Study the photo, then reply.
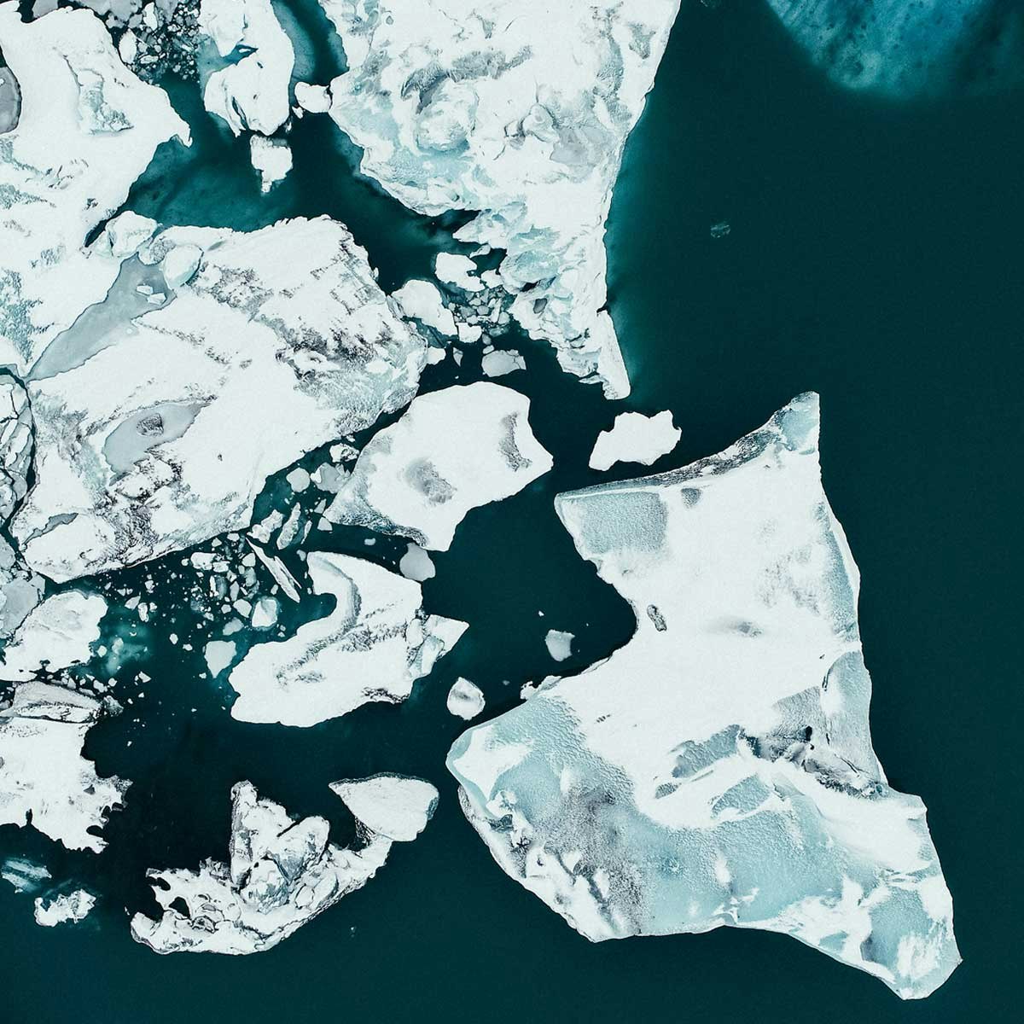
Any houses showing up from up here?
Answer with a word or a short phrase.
No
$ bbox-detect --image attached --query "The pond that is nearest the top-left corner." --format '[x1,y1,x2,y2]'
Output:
[25,253,175,382]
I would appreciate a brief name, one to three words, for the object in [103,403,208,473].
pond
